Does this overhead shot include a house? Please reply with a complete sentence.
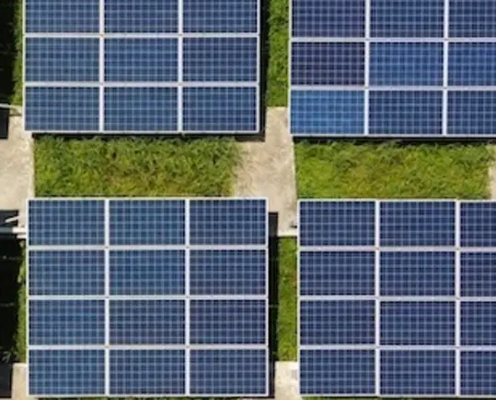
No, the photo shows no house.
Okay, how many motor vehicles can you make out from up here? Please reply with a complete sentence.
Not a single motor vehicle can be seen.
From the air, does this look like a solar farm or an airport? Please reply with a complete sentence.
The area seen from above is a solar farm.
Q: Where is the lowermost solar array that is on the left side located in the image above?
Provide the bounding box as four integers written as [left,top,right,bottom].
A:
[26,198,268,397]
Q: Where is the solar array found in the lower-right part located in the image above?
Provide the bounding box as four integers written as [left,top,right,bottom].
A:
[290,199,496,397]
